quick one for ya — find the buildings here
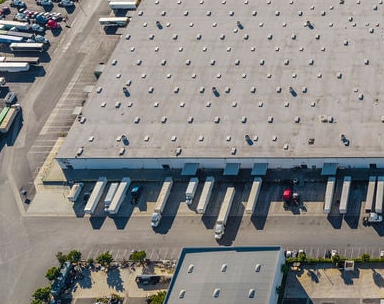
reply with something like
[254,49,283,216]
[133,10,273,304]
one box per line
[41,0,384,184]
[164,247,287,304]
